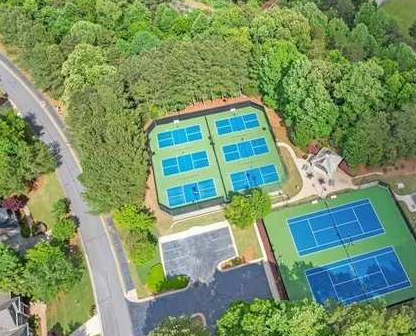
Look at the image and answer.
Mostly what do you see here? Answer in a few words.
trees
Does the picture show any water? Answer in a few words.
No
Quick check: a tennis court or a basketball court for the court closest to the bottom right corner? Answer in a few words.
tennis court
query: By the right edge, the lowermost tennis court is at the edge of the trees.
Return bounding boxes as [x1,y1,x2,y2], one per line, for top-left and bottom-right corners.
[305,245,412,314]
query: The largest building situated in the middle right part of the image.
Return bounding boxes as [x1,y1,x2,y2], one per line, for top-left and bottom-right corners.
[308,146,345,182]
